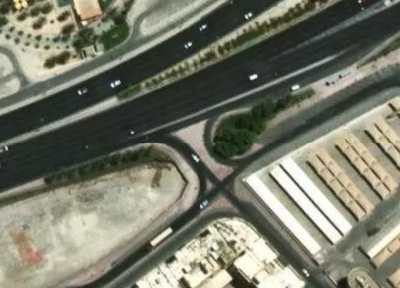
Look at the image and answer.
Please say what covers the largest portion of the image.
paved ground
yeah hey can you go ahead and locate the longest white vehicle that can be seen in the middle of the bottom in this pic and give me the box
[149,227,174,247]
